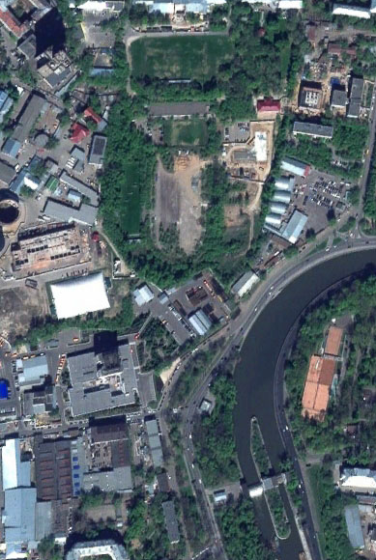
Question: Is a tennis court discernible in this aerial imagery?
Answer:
Yes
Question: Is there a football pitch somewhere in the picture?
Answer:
Yes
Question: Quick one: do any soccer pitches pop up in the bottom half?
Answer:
No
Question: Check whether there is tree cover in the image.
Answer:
Yes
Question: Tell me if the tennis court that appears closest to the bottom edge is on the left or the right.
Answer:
right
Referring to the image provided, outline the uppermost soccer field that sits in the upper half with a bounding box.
[128,30,236,82]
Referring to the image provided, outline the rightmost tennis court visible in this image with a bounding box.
[324,326,344,357]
